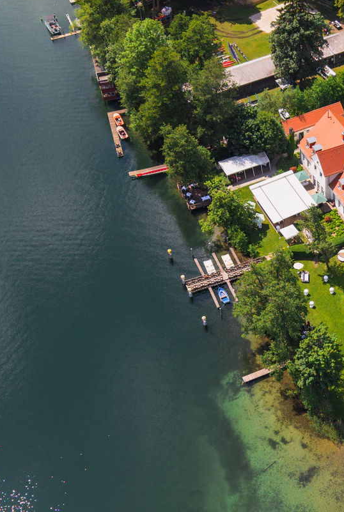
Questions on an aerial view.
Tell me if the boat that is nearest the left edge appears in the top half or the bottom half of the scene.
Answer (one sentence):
The boat that is nearest the left edge is in the top half of the image.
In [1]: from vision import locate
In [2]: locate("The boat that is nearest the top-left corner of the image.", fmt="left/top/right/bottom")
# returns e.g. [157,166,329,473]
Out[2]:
[41,12,62,37]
